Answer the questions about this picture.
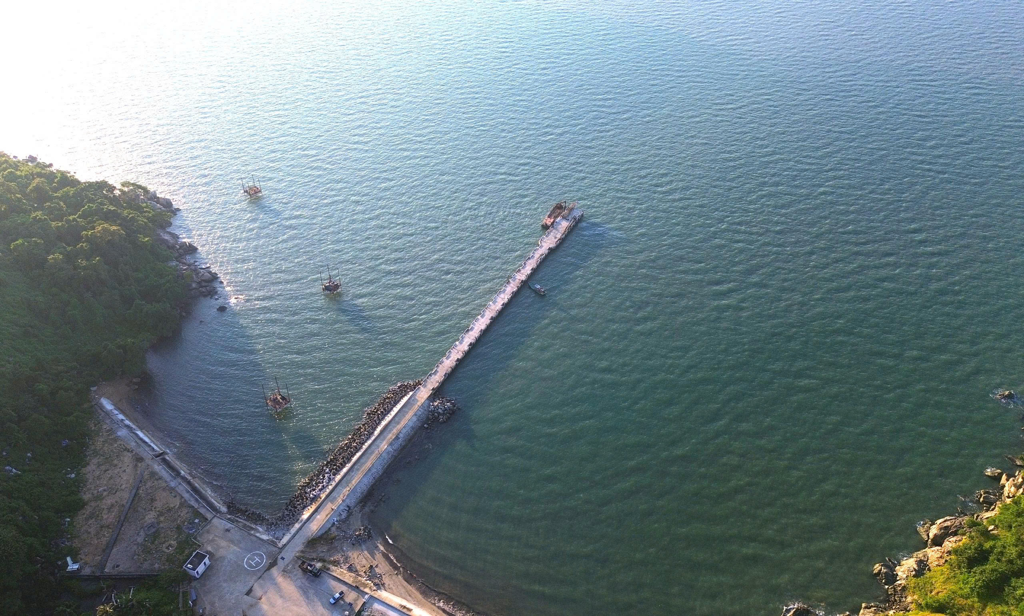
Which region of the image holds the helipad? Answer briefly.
bottom left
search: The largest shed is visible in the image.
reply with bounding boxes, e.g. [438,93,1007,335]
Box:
[183,551,212,579]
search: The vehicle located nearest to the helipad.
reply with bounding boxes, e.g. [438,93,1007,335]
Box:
[298,562,322,579]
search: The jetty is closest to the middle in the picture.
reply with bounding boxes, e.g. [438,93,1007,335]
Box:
[420,208,586,397]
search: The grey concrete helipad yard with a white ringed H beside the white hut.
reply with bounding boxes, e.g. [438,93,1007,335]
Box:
[186,516,280,616]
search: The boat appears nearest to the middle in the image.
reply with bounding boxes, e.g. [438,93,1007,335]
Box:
[528,281,547,295]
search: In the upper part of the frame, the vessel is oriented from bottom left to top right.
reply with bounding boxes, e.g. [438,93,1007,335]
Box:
[540,199,564,228]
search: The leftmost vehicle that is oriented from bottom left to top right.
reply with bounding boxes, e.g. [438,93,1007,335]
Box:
[329,590,346,604]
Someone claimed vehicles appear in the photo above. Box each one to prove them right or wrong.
[329,590,346,604]
[298,562,322,579]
